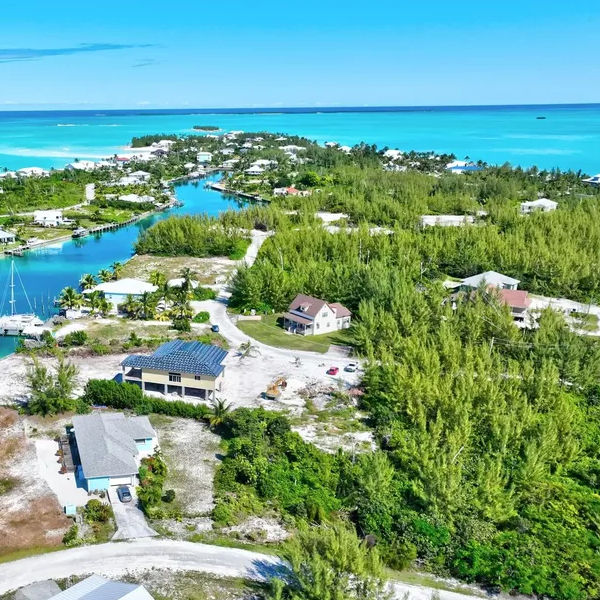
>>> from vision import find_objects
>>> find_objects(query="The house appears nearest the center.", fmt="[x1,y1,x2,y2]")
[278,294,354,336]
